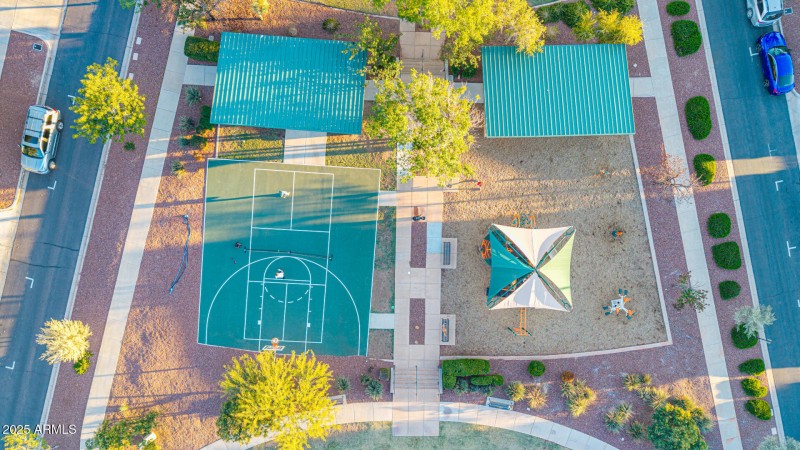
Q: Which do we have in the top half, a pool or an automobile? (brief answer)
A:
automobile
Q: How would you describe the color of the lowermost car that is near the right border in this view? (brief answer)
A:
blue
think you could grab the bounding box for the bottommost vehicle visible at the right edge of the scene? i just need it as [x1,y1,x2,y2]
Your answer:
[756,29,797,92]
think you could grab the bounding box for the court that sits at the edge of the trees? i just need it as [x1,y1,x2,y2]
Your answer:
[198,159,380,356]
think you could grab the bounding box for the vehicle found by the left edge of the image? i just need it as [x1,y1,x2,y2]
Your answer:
[20,106,63,173]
